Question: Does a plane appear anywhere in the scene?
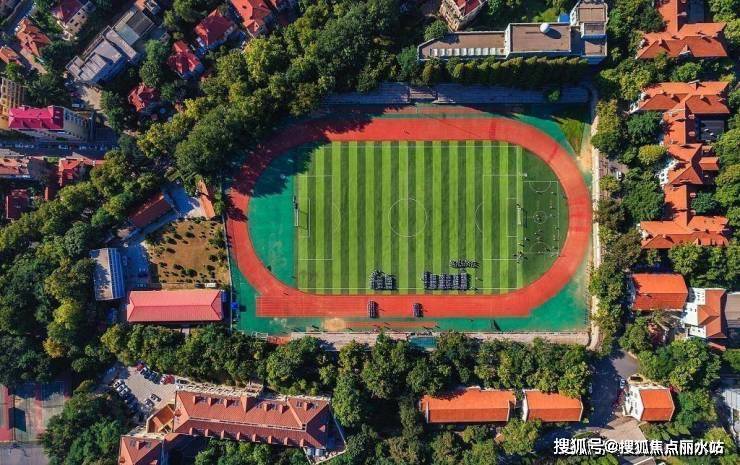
No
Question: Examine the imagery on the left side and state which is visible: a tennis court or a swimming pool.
tennis court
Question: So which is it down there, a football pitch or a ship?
football pitch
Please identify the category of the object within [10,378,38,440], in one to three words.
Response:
tennis court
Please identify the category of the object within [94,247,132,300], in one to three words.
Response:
shed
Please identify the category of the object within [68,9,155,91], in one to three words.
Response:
building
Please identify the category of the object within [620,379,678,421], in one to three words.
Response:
house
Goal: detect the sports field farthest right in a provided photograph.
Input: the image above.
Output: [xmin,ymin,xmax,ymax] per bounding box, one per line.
[522,148,568,288]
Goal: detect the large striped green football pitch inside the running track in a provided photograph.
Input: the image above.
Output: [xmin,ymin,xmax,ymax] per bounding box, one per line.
[297,142,522,294]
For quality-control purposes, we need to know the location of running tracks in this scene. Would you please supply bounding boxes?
[224,104,592,333]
